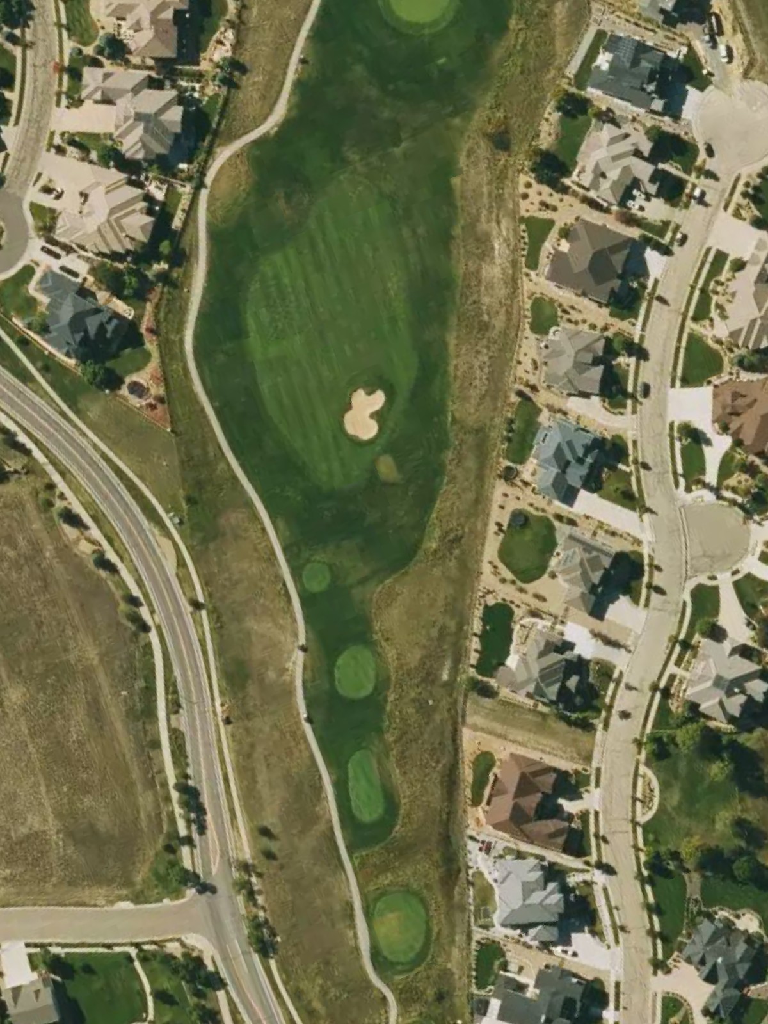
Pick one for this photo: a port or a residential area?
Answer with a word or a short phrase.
residential area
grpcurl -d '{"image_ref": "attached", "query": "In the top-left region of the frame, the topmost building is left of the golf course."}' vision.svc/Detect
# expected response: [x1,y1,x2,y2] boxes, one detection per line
[102,0,191,65]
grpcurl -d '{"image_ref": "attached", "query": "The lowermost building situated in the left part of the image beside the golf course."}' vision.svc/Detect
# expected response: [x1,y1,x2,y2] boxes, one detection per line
[37,270,136,364]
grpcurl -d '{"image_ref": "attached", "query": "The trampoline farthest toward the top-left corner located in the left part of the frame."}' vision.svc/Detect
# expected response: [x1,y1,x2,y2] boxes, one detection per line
[128,381,144,397]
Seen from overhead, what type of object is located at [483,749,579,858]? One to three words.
house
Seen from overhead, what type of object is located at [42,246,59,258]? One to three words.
vehicle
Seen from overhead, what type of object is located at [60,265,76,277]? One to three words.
vehicle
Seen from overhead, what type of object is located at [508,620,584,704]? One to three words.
house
